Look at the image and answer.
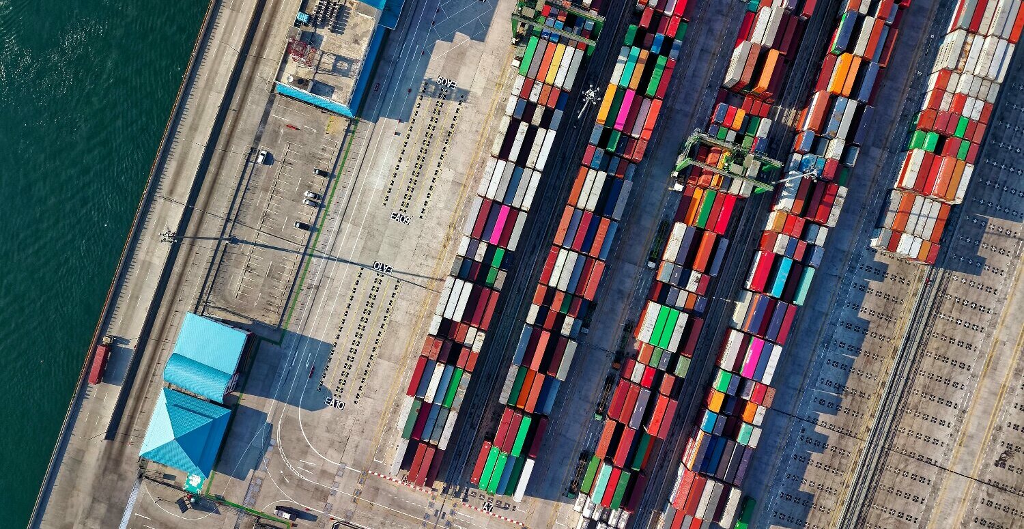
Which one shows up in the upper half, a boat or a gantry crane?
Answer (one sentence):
The one visible in the upper half is a gantry crane.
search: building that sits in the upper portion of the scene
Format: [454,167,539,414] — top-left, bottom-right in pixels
[275,0,405,120]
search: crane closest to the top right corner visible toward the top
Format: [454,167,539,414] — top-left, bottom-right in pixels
[663,130,787,203]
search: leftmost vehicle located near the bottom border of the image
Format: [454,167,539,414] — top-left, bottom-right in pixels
[275,504,299,521]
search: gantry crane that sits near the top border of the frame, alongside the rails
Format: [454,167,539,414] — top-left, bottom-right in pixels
[504,0,609,69]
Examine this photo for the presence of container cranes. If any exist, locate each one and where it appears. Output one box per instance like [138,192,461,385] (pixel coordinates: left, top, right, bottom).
[504,0,609,69]
[663,130,787,203]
